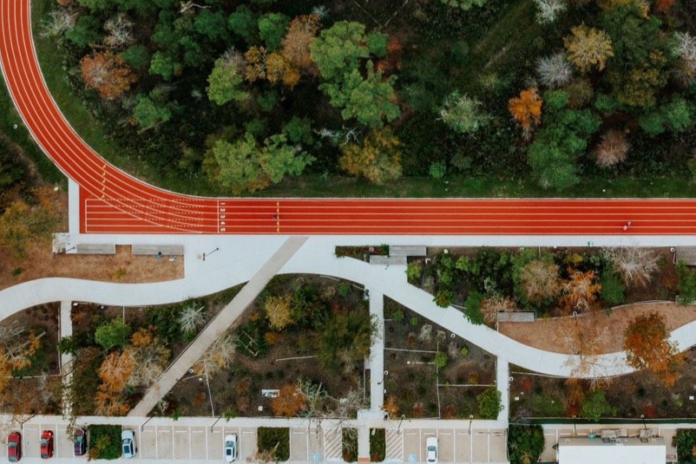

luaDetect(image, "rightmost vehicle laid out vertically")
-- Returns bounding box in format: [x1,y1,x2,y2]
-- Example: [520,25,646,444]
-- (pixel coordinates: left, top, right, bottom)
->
[426,436,439,464]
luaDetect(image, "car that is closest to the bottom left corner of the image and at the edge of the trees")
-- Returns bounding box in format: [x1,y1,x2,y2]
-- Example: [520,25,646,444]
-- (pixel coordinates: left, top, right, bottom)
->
[8,431,23,460]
